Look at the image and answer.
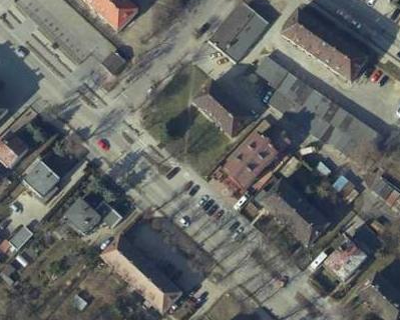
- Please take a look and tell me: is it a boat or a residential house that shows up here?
residential house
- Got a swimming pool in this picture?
No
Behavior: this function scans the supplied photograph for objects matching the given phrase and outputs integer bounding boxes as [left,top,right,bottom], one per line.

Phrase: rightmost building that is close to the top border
[280,8,371,81]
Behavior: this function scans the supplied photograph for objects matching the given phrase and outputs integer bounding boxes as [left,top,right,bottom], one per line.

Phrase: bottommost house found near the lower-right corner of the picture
[358,280,400,320]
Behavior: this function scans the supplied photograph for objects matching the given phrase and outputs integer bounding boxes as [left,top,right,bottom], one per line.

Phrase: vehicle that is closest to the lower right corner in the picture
[309,254,326,269]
